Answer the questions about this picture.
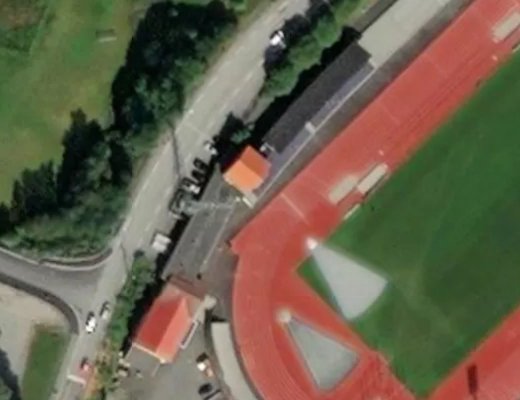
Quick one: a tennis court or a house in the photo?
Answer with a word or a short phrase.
house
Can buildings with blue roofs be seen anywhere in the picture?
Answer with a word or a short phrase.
No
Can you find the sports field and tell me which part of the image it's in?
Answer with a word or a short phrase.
right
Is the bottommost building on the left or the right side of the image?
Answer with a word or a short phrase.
left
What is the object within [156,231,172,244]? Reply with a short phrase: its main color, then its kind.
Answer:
white vehicle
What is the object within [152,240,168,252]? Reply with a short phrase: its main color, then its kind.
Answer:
white vehicle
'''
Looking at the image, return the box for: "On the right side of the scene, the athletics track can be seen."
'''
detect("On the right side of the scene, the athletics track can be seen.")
[226,0,520,400]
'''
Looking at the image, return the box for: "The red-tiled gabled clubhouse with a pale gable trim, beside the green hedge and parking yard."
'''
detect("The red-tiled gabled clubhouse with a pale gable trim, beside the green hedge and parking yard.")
[133,284,204,363]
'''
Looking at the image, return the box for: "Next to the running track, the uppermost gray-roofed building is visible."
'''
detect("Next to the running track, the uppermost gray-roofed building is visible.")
[164,168,238,285]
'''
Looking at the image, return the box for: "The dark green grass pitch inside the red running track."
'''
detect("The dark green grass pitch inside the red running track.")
[295,48,520,400]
